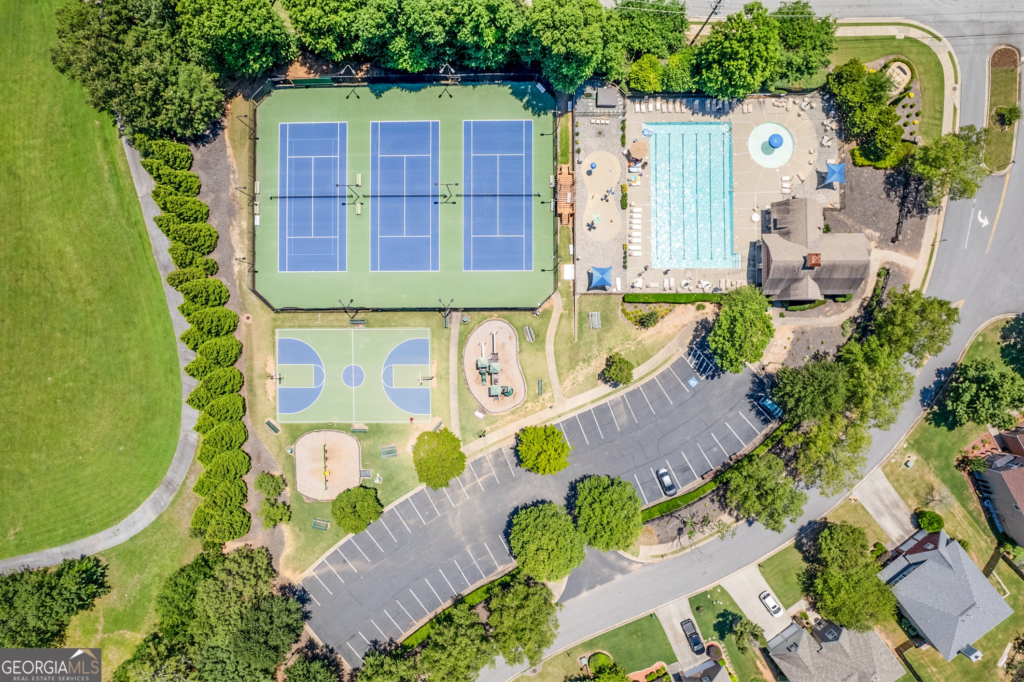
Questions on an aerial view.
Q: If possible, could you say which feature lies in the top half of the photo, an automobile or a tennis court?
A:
tennis court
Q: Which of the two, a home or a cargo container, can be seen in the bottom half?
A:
home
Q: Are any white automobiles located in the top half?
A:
No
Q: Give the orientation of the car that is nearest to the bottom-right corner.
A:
on a diagonal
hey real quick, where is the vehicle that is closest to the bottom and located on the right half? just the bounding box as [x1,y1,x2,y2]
[679,619,707,658]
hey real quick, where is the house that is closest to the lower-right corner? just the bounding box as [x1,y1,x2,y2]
[882,526,1014,663]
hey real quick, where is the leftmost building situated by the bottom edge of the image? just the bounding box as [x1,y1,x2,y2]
[679,653,733,682]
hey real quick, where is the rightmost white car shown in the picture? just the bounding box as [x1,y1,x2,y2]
[759,591,786,621]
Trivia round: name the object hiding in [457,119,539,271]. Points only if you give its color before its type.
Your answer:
blue tennis court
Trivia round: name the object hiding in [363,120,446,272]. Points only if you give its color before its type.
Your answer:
blue tennis court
